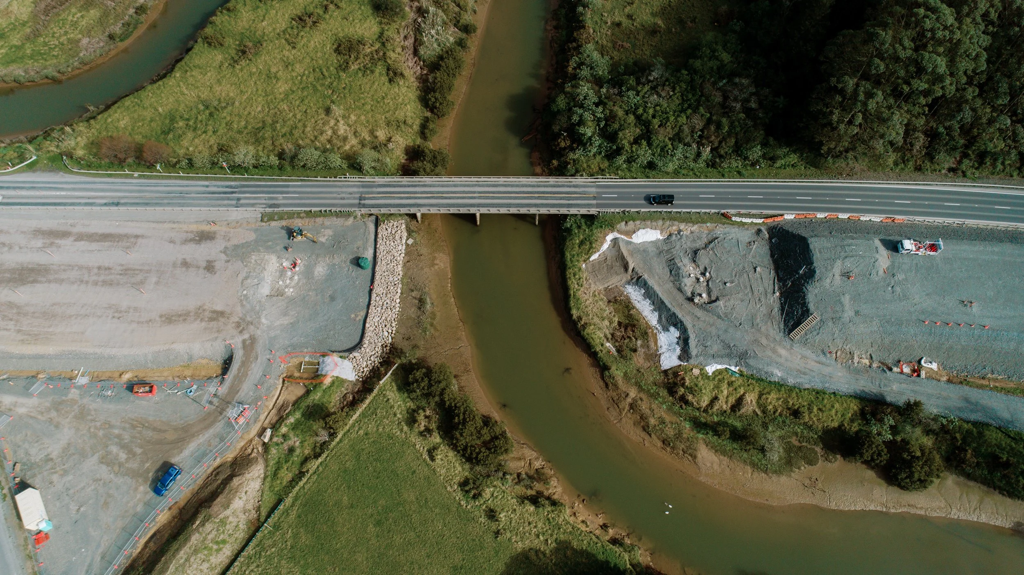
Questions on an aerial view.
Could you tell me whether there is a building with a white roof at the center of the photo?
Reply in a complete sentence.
No, there's no building with a white roof to be seen at the center of the photo.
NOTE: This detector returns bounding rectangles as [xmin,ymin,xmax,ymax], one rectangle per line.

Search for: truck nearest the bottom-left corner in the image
[153,467,180,498]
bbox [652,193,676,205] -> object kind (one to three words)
vehicle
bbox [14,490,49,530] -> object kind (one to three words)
building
